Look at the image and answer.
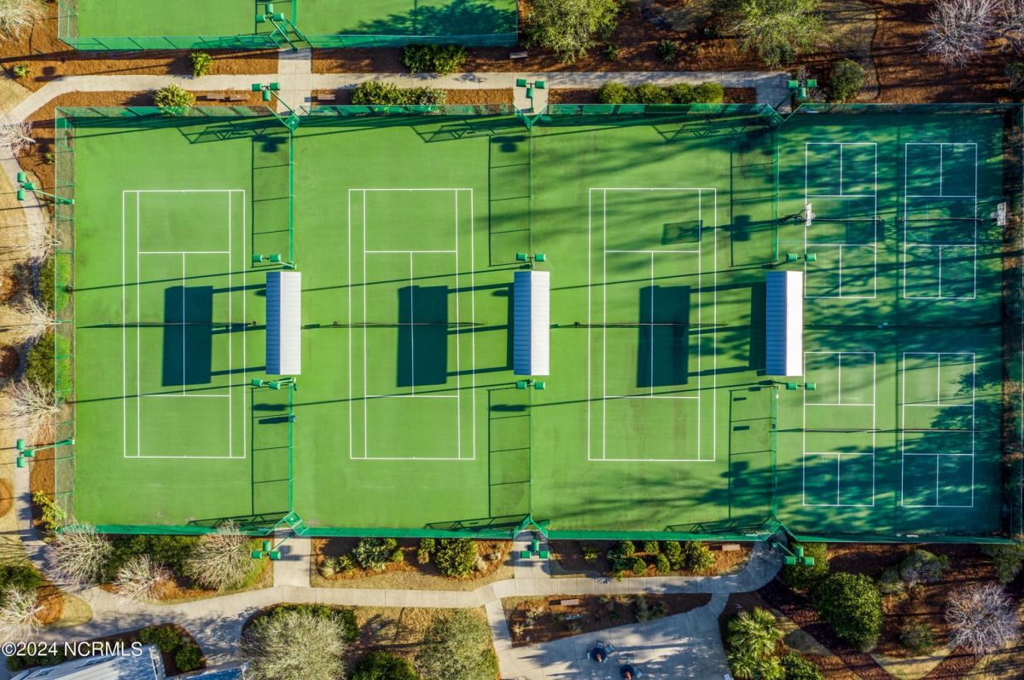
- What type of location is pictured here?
sports ground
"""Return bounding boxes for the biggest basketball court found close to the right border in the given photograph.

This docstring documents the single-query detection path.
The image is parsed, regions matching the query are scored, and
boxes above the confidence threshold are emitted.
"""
[773,110,1005,538]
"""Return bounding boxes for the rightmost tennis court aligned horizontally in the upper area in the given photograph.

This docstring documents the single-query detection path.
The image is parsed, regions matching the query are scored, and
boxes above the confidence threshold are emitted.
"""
[295,0,518,49]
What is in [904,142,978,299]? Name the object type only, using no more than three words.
sports court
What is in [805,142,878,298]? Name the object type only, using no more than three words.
sports court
